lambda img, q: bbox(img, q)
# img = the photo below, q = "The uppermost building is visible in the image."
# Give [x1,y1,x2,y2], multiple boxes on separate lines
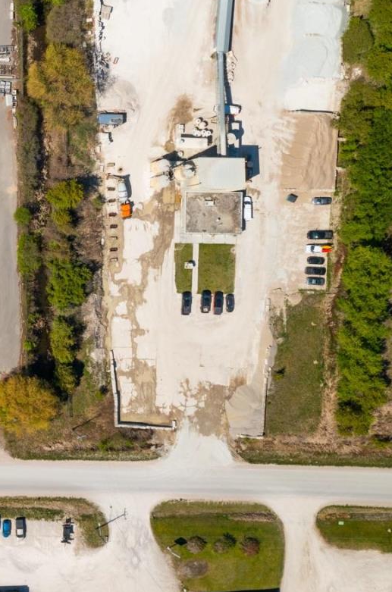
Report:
[179,157,251,193]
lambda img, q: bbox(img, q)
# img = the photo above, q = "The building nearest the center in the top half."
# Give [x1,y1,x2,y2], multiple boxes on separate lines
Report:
[180,193,244,233]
